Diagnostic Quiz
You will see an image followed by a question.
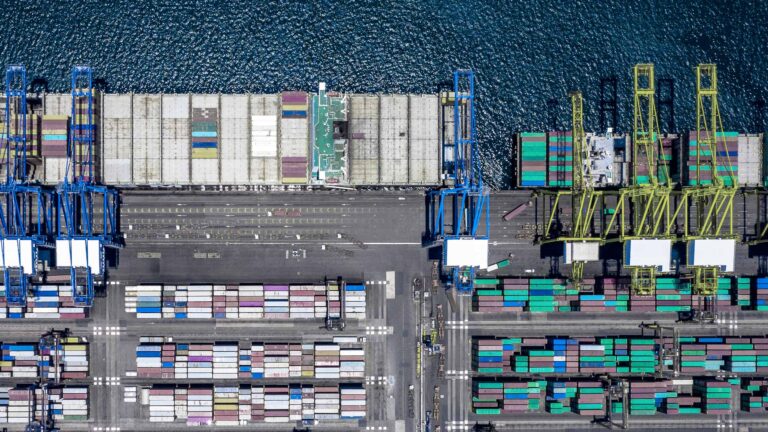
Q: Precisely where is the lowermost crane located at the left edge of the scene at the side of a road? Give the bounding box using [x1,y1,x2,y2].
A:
[25,382,59,432]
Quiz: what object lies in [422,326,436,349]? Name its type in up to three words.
work vehicle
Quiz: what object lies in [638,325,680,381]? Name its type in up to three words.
crane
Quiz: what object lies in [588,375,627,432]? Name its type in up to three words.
crane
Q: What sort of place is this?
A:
port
